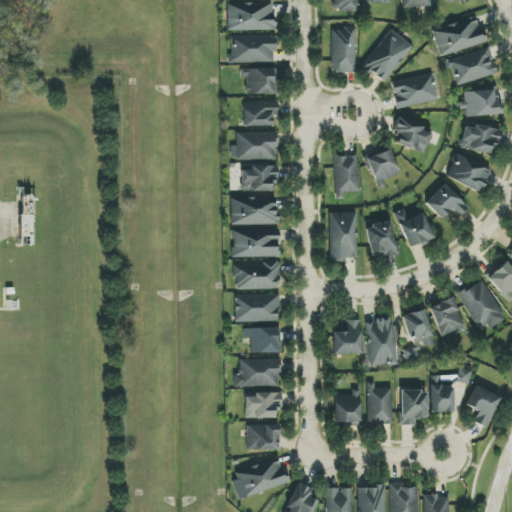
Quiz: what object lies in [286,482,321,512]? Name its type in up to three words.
house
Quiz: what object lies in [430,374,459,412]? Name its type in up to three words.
house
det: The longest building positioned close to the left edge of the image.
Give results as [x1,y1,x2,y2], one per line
[15,187,38,246]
